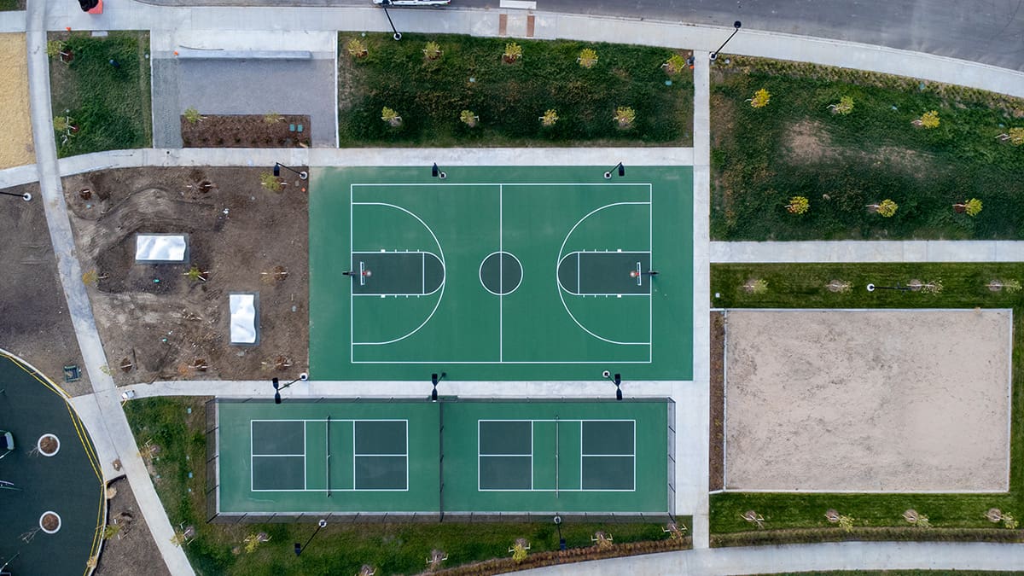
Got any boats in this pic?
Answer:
No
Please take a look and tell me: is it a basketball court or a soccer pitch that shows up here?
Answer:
basketball court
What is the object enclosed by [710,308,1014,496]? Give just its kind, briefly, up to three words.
sports court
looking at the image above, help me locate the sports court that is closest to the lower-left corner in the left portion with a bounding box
[219,395,442,512]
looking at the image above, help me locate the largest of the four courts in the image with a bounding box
[308,166,693,381]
